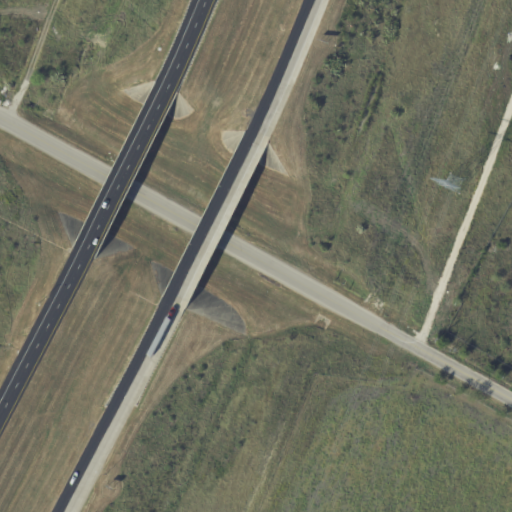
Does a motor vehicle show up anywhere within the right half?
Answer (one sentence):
No, I can find no motor vehicle within the right half.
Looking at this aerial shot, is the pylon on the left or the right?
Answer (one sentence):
You can find the pylon on the right side of the picture.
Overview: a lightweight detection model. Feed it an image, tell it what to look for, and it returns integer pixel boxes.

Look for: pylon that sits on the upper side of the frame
[432,172,466,194]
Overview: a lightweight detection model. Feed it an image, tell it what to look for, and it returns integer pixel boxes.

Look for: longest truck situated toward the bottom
[148,305,178,354]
